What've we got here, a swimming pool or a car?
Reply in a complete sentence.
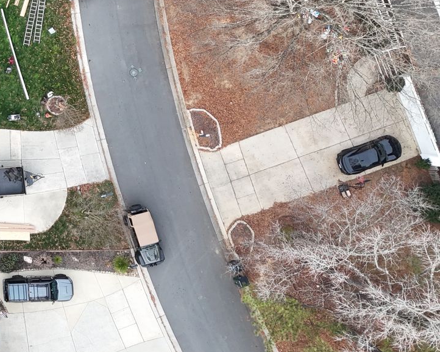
Looking from above, you can make out a car.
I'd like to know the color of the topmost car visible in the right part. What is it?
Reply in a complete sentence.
The color of the topmost car visible in the right part is black.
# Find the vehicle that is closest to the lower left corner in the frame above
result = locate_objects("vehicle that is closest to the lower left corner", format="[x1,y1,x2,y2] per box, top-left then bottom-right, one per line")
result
[3,277,78,307]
